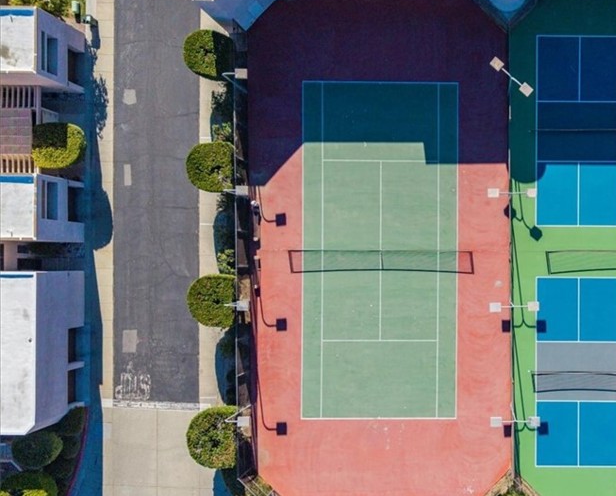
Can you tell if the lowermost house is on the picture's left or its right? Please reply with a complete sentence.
The lowermost house appears in the left half of the scene.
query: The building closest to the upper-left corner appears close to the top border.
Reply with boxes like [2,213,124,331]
[0,5,84,94]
